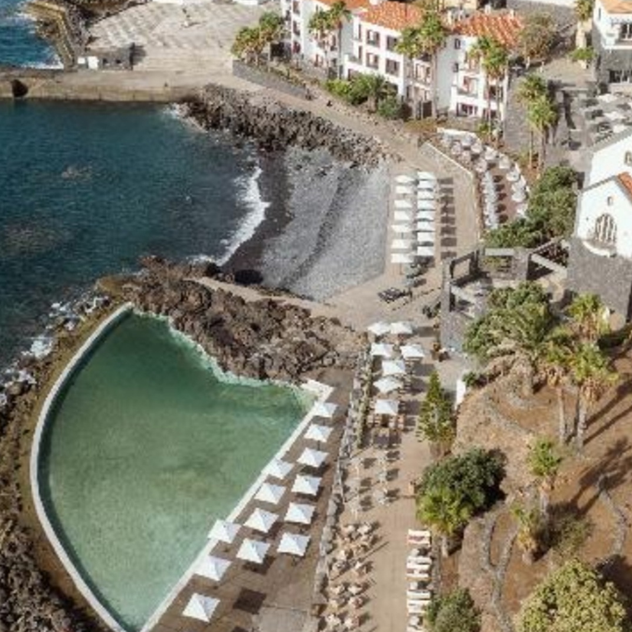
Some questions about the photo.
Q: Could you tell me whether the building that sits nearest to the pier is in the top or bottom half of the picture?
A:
top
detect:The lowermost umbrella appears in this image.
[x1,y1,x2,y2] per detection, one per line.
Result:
[180,594,220,632]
